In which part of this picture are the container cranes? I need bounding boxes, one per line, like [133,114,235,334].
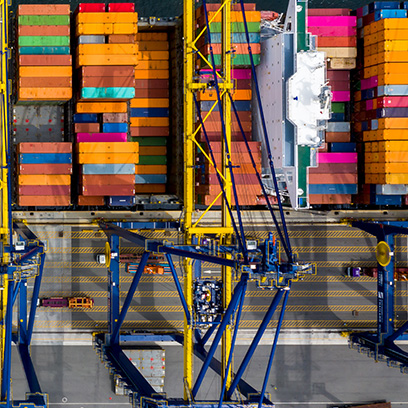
[91,0,317,408]
[0,0,55,408]
[341,219,408,369]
